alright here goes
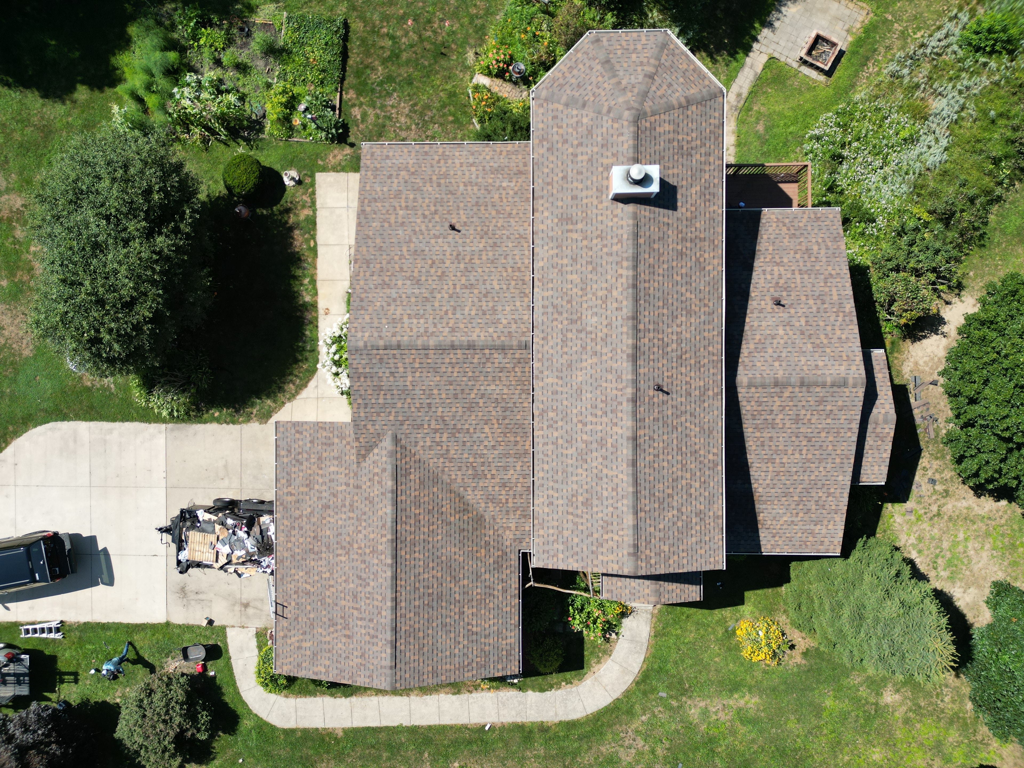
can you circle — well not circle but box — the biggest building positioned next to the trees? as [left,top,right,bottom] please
[273,29,897,689]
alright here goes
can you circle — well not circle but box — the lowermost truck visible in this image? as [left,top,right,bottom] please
[0,640,30,704]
